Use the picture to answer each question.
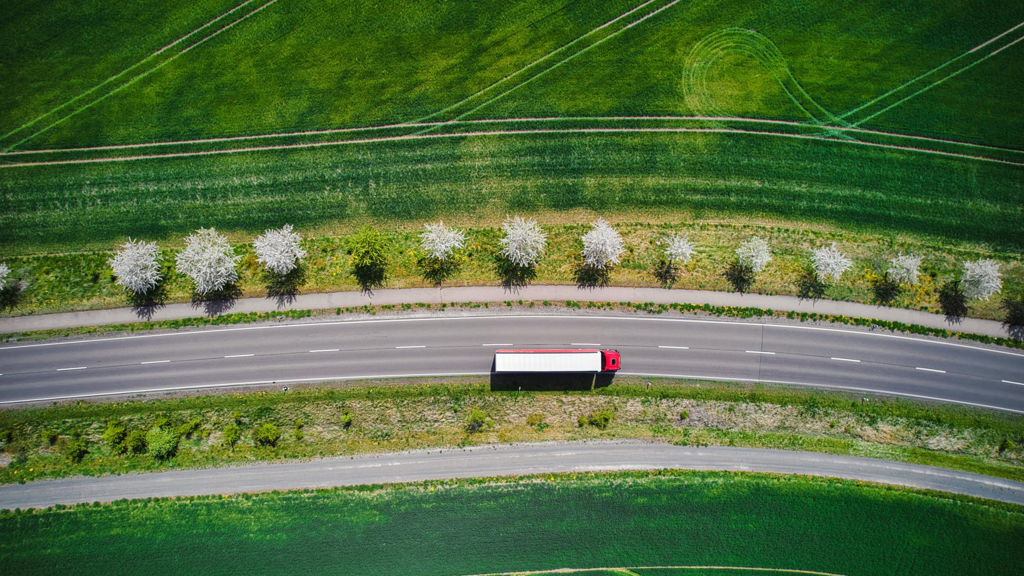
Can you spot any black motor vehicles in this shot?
No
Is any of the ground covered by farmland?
Yes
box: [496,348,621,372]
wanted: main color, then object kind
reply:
white truck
